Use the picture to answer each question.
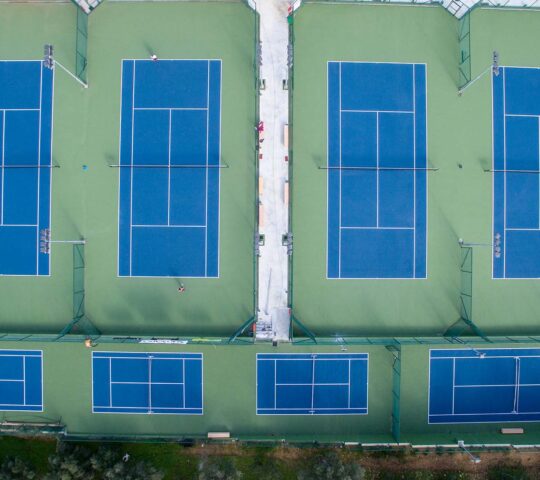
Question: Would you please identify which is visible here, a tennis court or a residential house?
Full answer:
Looking from above, you can make out a tennis court.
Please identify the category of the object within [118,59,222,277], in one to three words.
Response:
tennis court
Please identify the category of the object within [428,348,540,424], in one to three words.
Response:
tennis court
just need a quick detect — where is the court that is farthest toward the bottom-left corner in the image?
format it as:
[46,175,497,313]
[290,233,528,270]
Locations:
[0,350,43,411]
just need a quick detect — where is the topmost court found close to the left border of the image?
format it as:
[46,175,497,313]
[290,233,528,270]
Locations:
[0,60,54,276]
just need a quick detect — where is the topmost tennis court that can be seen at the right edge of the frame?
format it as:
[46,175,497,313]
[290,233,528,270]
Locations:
[492,66,540,279]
